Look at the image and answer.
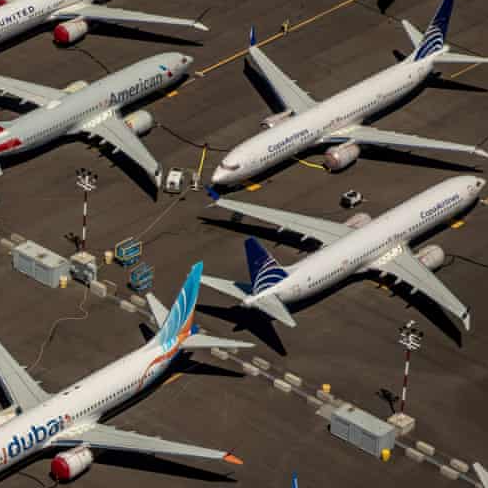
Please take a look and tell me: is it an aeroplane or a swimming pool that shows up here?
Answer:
aeroplane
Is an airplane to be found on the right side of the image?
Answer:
Yes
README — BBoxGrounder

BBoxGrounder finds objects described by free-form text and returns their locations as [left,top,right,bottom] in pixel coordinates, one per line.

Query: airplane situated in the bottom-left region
[0,261,256,485]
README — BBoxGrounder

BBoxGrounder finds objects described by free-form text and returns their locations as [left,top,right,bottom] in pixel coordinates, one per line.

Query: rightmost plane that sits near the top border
[210,0,488,194]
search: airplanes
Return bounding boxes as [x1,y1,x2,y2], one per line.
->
[0,261,256,485]
[188,173,486,332]
[0,0,212,46]
[0,50,197,187]
[210,0,488,194]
